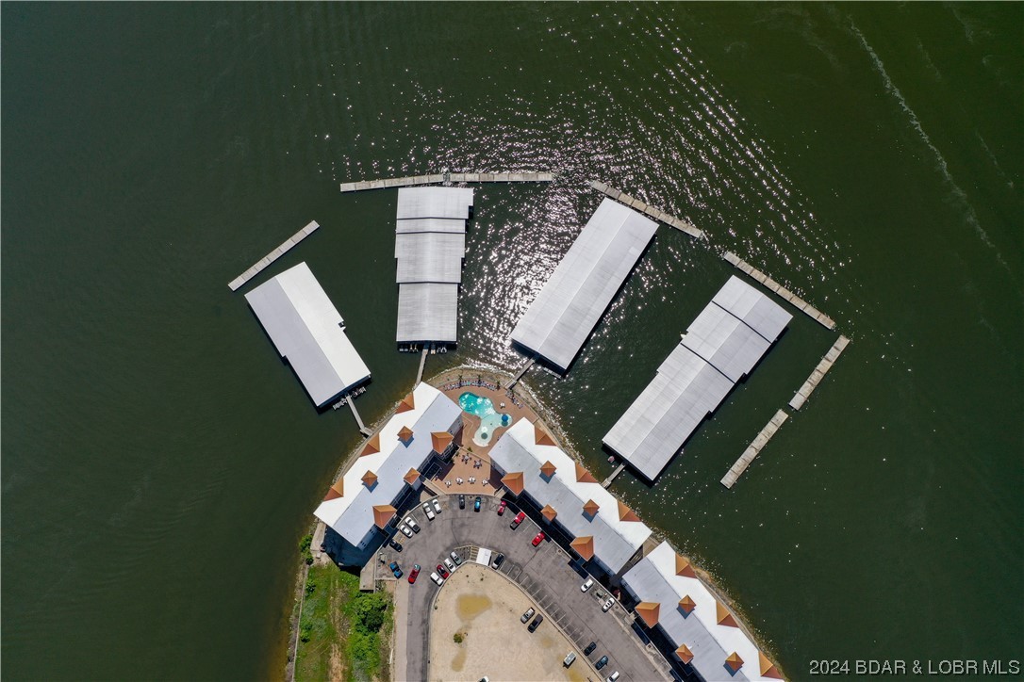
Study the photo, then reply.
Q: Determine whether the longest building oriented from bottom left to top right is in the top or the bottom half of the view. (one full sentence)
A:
You can find the longest building oriented from bottom left to top right in the bottom half.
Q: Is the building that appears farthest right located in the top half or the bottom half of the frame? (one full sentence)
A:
The building that appears farthest right sits in the bottom half of the picture.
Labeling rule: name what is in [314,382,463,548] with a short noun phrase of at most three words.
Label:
building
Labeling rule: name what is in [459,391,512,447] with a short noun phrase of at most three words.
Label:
swimming pool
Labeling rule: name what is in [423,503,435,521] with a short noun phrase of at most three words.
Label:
vehicle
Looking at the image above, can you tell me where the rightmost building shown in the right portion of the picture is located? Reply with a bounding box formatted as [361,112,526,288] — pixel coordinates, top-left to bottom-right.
[620,541,784,682]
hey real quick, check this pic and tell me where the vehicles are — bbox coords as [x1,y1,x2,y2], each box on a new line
[499,501,507,515]
[521,607,536,624]
[475,497,481,511]
[602,598,614,612]
[444,558,456,573]
[528,614,544,632]
[492,553,504,569]
[400,525,412,537]
[389,562,402,578]
[432,499,442,513]
[436,564,449,579]
[606,670,620,682]
[459,494,465,508]
[584,641,597,656]
[595,655,609,671]
[511,512,524,529]
[406,517,420,533]
[430,572,443,586]
[423,503,435,521]
[389,539,403,552]
[450,552,462,565]
[581,578,593,592]
[408,565,420,583]
[534,533,545,546]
